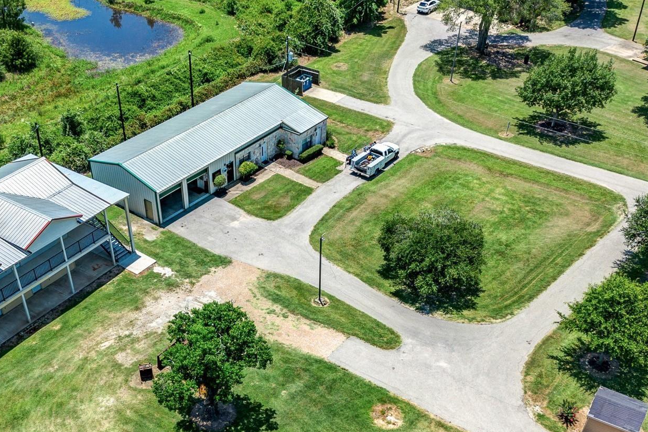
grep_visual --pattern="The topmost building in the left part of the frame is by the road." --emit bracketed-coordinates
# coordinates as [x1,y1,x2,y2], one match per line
[87,81,330,228]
